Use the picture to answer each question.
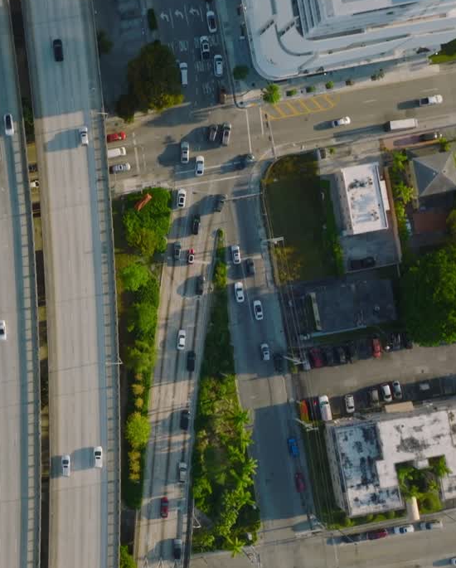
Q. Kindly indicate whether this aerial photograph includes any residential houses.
Yes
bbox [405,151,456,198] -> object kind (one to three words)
house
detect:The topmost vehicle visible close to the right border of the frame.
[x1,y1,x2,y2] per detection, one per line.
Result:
[415,94,440,107]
